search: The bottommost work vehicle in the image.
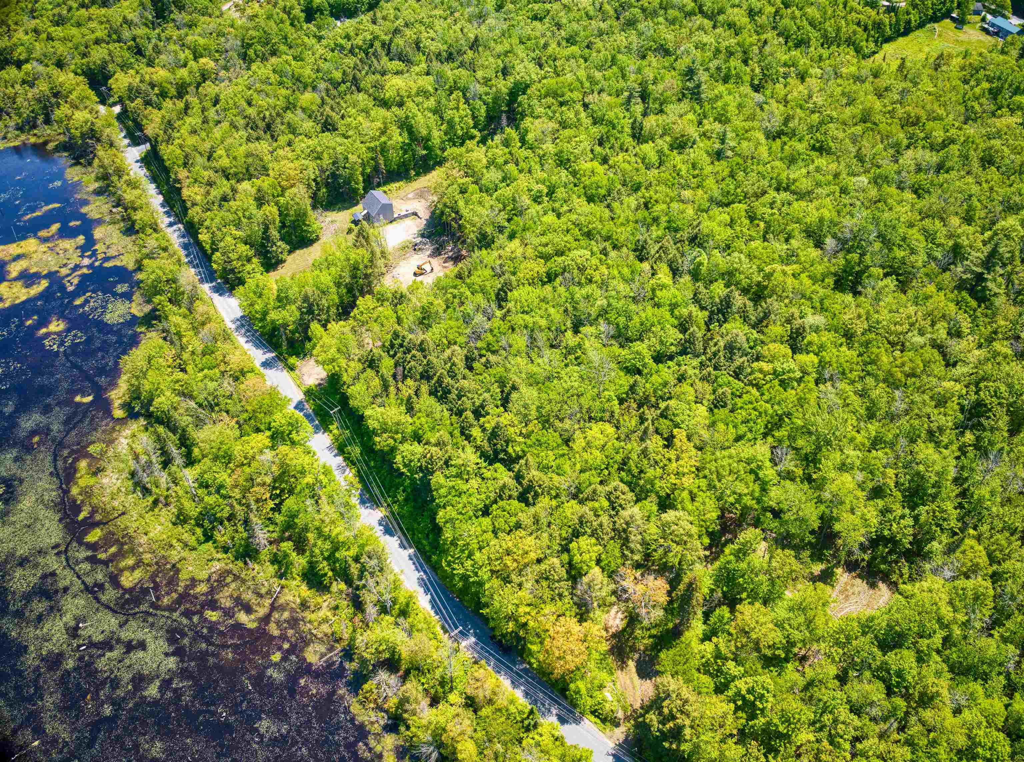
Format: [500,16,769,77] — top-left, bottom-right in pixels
[413,262,433,274]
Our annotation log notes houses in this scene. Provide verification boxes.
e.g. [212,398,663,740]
[985,15,1024,39]
[360,189,395,227]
